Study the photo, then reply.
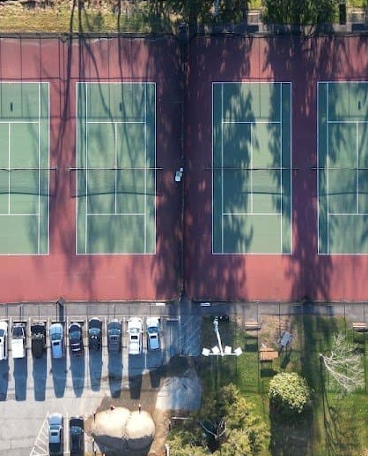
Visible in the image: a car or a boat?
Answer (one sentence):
This aerial view contains a car.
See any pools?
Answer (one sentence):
No, I can't see a single pool in this photo.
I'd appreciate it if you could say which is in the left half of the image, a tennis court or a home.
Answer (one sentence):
What appears in the left half of the image is a tennis court.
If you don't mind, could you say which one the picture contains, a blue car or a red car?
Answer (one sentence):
Of the two, only a blue car appears.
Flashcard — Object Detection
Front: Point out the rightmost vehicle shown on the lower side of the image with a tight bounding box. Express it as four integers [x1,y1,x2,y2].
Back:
[145,315,161,349]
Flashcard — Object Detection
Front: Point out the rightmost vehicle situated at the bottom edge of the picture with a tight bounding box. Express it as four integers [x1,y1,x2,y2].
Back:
[68,418,86,456]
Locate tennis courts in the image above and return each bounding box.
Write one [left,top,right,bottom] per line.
[212,82,293,256]
[317,82,368,256]
[0,82,49,256]
[75,82,156,256]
